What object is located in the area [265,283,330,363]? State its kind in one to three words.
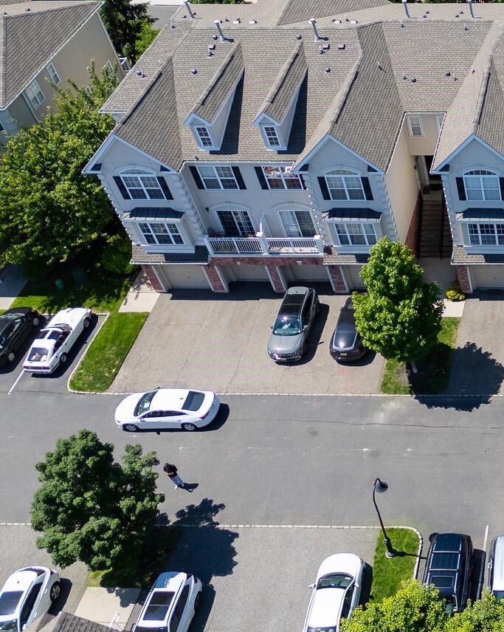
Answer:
car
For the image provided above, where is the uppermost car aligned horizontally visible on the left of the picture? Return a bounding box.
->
[112,391,223,439]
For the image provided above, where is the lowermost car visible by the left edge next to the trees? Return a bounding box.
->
[0,567,60,632]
